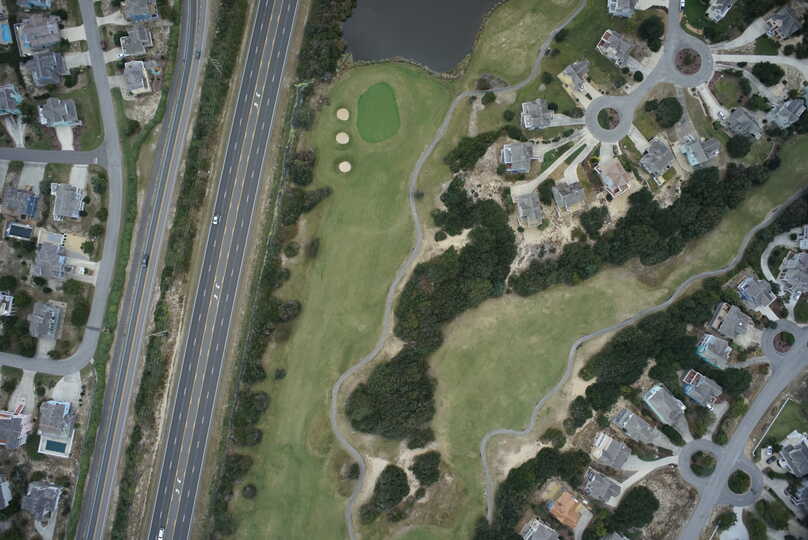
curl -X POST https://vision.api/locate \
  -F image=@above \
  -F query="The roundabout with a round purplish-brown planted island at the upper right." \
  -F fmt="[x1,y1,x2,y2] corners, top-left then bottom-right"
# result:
[664,36,713,85]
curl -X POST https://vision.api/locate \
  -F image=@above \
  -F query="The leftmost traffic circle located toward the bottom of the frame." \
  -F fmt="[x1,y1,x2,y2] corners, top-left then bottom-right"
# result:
[679,439,728,489]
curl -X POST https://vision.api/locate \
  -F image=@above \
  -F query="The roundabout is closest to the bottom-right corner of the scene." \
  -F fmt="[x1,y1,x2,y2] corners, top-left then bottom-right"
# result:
[715,458,763,506]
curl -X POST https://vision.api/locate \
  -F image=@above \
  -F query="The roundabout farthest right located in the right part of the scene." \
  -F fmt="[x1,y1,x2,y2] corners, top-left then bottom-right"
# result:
[761,319,806,363]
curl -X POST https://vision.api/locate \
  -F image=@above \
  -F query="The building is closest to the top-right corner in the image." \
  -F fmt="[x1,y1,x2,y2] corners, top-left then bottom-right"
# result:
[765,3,808,42]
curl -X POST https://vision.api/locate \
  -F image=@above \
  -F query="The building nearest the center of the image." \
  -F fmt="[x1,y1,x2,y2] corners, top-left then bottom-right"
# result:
[517,192,544,231]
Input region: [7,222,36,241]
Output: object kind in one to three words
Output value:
swimming pool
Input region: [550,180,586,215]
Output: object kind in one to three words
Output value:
house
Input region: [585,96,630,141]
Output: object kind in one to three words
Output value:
roundabout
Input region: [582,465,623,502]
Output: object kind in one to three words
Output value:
house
